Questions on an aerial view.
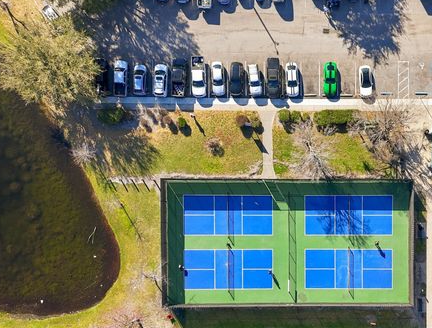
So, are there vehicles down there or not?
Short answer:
Yes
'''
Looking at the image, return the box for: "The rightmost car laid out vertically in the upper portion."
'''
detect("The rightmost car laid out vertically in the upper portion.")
[359,66,374,98]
